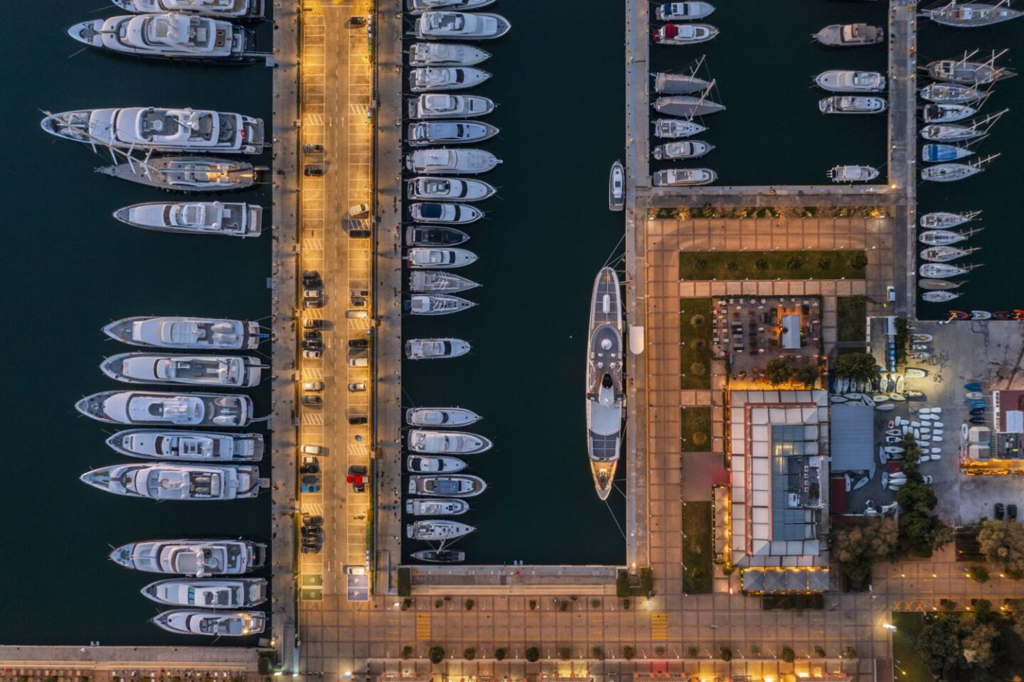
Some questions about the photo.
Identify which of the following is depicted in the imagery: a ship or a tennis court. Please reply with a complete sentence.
It is a ship that can be seen here.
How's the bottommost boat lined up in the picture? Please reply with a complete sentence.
In this picture, the bottommost boat lies from left to right.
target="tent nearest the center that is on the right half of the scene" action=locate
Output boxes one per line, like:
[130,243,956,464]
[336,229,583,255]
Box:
[628,326,643,353]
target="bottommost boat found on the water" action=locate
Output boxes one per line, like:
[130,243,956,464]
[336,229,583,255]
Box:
[151,608,266,644]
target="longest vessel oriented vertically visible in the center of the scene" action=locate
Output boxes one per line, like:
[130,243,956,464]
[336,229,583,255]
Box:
[585,234,638,541]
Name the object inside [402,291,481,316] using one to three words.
boat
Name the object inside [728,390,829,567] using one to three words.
building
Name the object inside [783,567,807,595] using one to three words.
tent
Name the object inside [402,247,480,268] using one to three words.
boat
